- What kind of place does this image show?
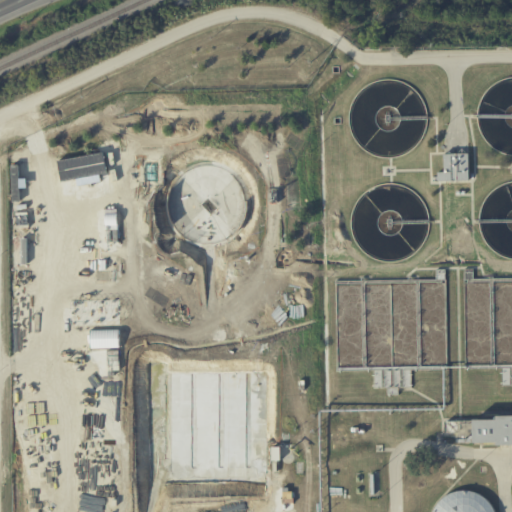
industrial area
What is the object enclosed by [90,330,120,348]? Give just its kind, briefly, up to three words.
building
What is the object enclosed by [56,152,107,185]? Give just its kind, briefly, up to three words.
barn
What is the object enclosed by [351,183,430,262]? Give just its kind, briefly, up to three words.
storage tank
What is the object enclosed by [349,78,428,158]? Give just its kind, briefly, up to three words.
storage tank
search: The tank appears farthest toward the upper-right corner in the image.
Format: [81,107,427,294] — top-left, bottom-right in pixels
[478,77,512,156]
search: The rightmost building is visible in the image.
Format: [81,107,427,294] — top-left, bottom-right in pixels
[472,416,512,446]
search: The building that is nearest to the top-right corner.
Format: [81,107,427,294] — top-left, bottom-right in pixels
[431,154,469,180]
